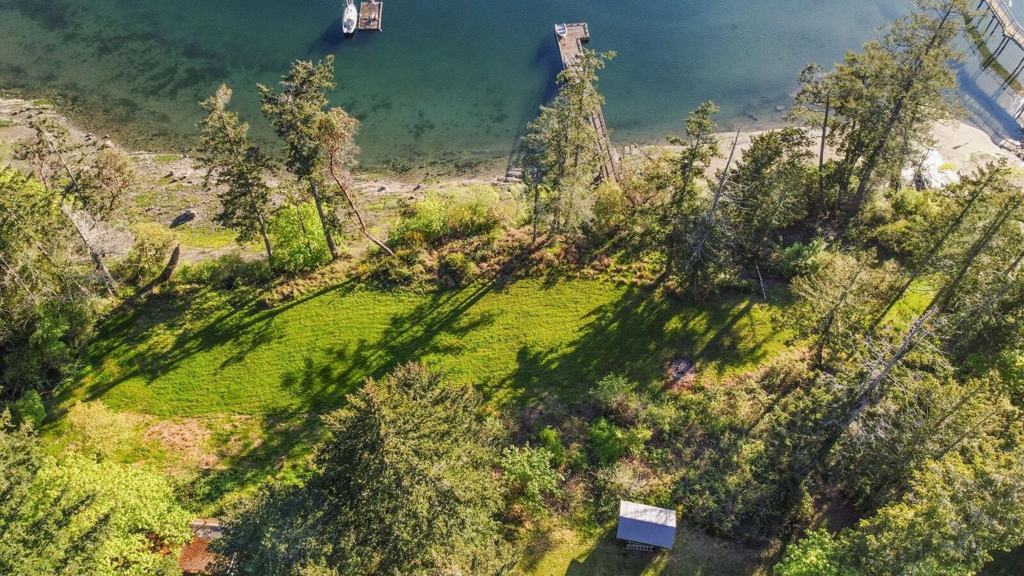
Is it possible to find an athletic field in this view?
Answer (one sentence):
No, there isn't any athletic field down there.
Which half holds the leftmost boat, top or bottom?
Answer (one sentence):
The leftmost boat is in the top half of the image.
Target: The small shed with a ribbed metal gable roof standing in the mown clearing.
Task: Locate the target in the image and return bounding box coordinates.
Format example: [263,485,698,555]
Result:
[617,498,675,554]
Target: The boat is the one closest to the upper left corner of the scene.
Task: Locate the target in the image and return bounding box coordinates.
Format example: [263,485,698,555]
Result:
[339,0,359,37]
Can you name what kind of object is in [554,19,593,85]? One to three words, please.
pier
